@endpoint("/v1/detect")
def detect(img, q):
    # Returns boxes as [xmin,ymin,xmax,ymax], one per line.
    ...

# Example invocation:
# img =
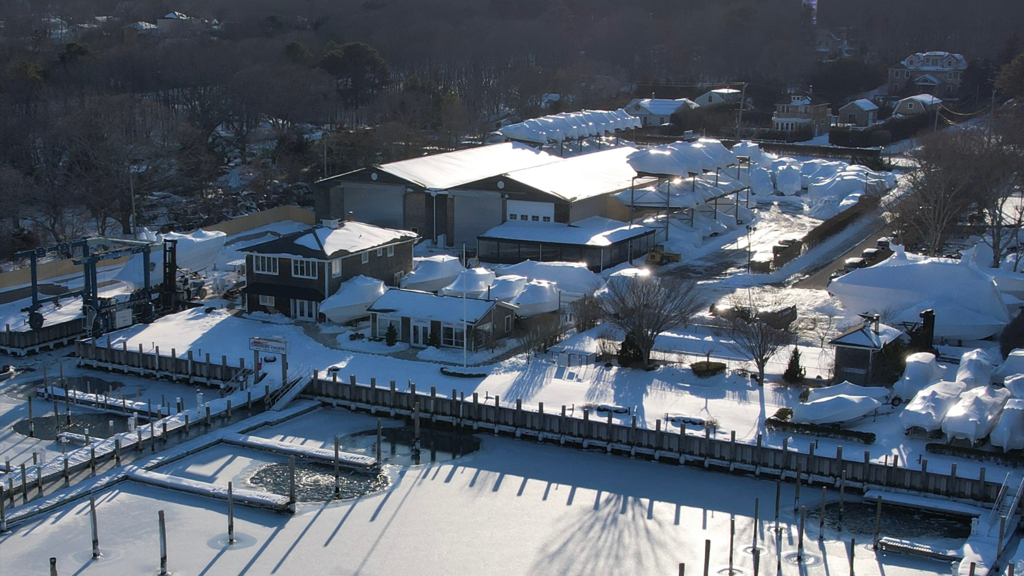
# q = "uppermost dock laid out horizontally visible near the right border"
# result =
[864,493,982,520]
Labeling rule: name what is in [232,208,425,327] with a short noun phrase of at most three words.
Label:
building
